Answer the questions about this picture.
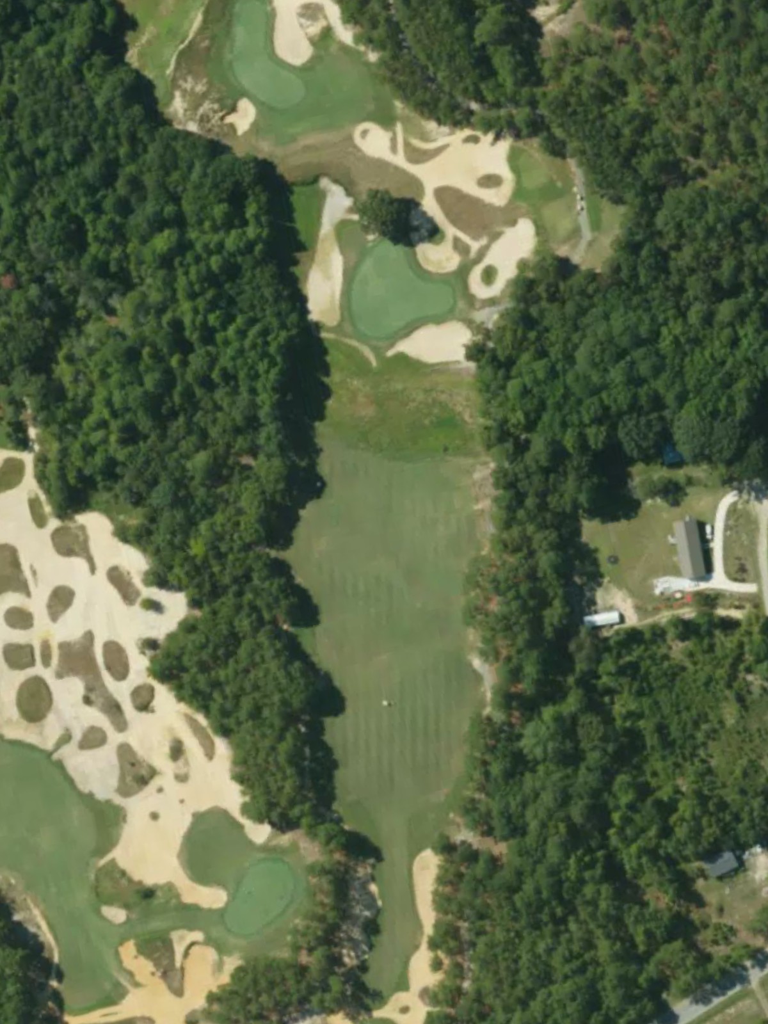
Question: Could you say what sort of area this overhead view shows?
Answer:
golf course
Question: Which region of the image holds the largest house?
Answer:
right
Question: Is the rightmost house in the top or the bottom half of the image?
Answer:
bottom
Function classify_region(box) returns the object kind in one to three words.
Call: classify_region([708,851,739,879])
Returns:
house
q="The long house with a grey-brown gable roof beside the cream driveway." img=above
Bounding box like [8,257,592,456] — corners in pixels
[673,518,706,579]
